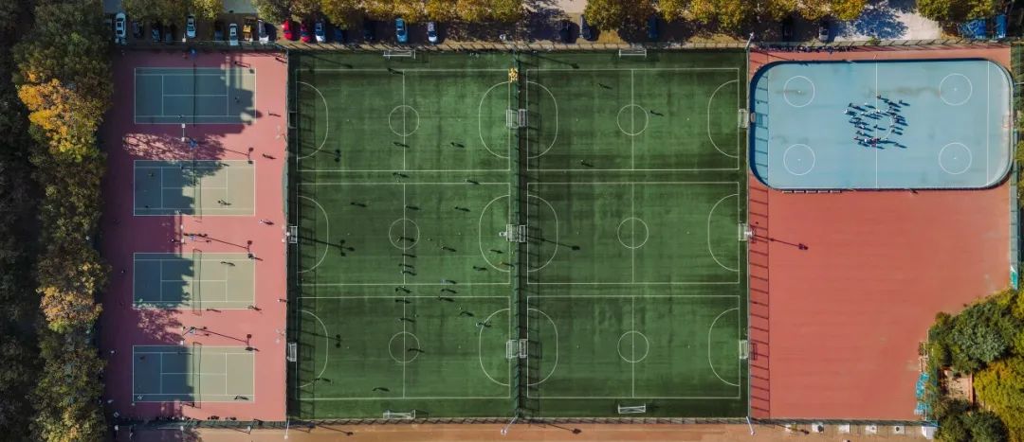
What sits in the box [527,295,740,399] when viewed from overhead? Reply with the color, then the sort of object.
green soccer field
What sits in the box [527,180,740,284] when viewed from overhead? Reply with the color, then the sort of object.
green soccer field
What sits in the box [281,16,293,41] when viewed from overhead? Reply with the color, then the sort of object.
red vehicle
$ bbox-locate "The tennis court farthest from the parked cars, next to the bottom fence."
[134,341,255,409]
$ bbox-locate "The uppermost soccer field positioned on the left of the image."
[297,68,509,171]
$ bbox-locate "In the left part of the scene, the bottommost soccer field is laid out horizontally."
[297,295,509,400]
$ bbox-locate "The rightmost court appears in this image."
[752,58,1017,192]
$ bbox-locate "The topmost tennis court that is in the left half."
[134,61,255,129]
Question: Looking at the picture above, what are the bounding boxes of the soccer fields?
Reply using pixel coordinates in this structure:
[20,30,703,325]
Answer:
[297,181,509,284]
[527,295,740,399]
[297,68,509,171]
[527,180,740,284]
[527,67,740,170]
[297,295,509,400]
